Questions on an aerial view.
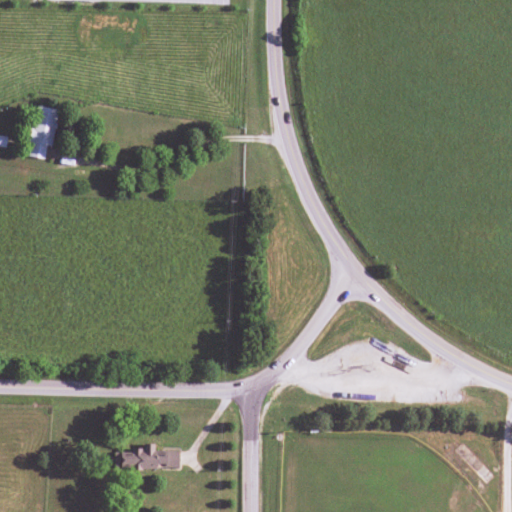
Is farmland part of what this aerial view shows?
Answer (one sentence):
Yes, some farmland is visible.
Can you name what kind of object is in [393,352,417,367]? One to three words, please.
vehicle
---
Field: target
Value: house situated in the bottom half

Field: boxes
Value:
[116,444,180,472]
